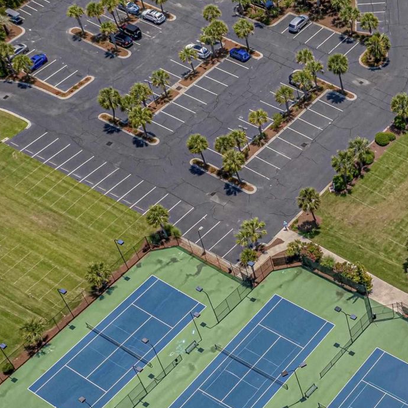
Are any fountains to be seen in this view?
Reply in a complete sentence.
No, no fountain can be seen from above.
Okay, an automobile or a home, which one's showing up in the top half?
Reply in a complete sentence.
What appears in the top half is an automobile.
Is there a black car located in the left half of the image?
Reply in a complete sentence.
Yes, a black car is visible in the left half of the image.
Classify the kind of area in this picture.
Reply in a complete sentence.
This looks like a sports ground.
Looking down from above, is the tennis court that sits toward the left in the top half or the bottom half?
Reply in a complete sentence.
It is in the bottom half that the tennis court that sits toward the left appears.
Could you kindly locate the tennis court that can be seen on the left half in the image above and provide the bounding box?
[0,246,253,408]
